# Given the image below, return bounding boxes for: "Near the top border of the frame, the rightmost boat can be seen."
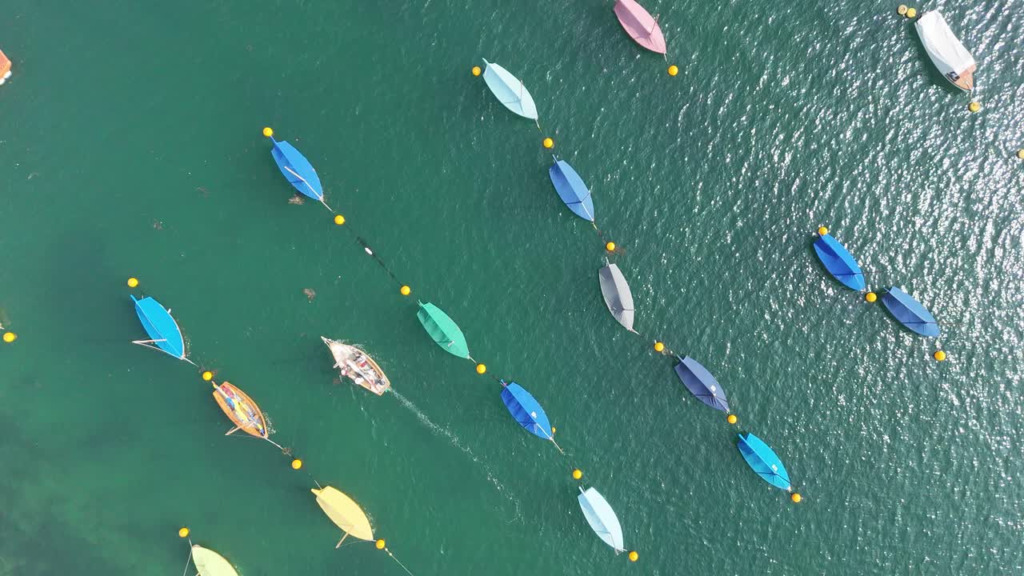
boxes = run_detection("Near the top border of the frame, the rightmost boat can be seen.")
[911,9,980,102]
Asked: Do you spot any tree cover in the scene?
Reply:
No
